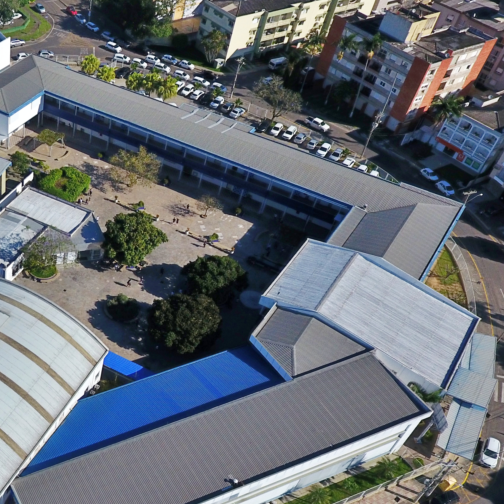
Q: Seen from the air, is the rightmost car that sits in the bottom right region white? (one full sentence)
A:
Yes, the rightmost car that sits in the bottom right region appears white.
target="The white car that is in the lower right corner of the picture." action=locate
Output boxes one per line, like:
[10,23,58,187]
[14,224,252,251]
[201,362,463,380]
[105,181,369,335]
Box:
[480,436,502,468]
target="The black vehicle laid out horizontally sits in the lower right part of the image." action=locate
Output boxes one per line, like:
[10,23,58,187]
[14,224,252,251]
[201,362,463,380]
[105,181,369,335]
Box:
[428,490,462,504]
